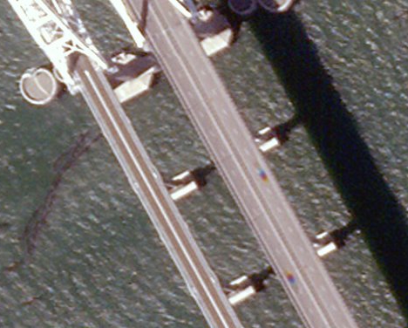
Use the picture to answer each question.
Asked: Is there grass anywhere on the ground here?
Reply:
No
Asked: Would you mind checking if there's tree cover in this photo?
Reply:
No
